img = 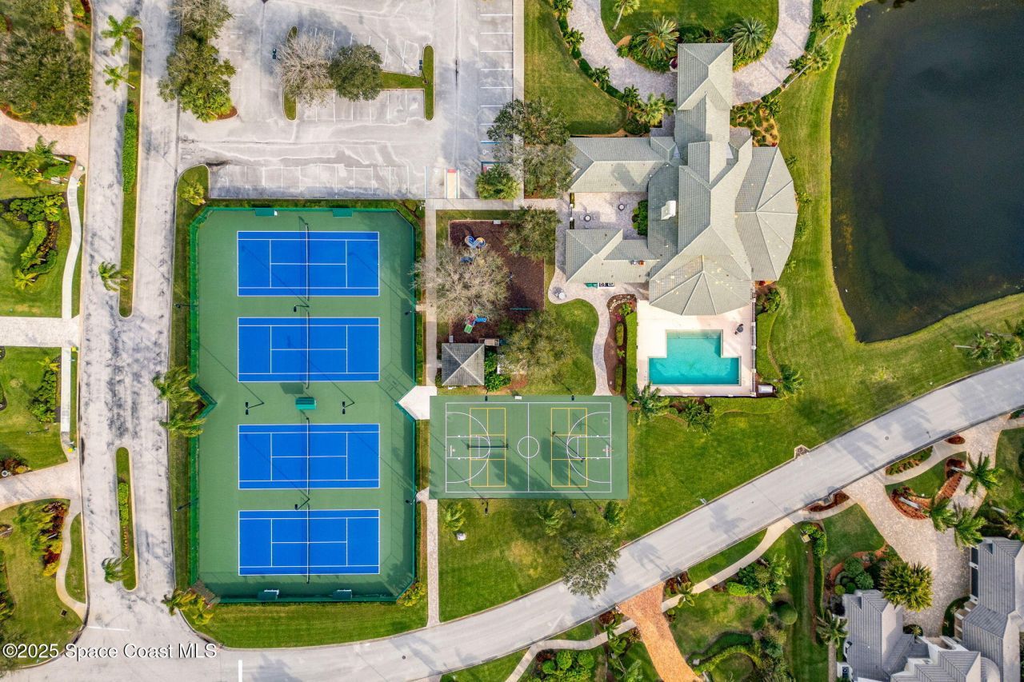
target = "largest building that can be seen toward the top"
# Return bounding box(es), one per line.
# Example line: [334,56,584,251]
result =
[562,43,798,315]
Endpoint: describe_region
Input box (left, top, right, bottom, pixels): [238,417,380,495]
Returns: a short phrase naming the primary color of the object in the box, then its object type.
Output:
blue tennis court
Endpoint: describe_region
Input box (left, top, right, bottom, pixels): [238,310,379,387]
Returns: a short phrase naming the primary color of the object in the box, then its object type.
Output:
blue tennis court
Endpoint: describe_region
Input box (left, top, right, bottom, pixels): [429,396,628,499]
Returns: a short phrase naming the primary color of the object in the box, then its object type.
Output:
green basketball court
